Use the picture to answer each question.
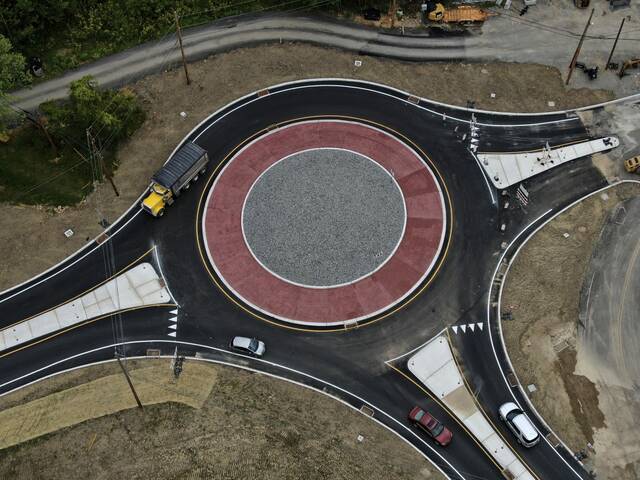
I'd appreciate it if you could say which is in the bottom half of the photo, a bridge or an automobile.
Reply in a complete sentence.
What appears in the bottom half of the photo is an automobile.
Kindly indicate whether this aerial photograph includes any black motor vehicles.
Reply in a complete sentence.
Yes, a black motor vehicle can be made out from above.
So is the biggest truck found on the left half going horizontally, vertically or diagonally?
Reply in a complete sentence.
Seen from above, the biggest truck found on the left half lies diagonally.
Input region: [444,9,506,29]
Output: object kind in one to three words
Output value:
trailer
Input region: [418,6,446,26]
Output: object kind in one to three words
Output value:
work vehicle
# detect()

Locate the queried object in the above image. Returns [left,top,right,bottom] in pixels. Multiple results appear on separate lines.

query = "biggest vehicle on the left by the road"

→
[141,143,210,218]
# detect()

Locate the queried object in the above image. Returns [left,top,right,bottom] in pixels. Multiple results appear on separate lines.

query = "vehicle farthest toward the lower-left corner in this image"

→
[230,336,266,358]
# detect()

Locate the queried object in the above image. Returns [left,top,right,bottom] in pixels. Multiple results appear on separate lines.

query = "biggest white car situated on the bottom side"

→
[498,402,541,449]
